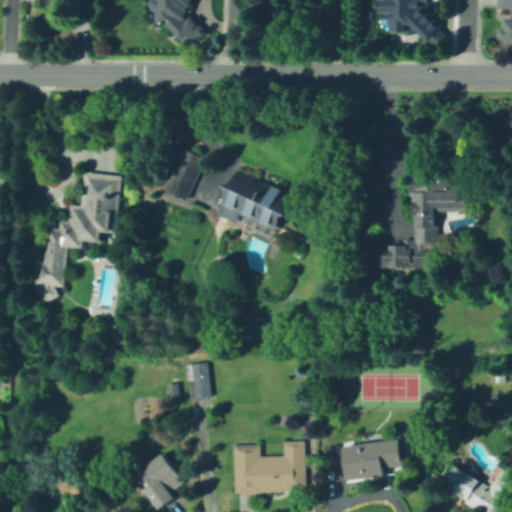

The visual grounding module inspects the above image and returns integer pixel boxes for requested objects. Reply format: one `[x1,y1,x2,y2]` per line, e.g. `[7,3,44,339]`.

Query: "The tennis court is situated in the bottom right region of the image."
[354,366,430,410]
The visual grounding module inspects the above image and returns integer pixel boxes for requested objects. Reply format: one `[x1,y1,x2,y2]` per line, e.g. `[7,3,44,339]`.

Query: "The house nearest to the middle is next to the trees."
[215,172,289,228]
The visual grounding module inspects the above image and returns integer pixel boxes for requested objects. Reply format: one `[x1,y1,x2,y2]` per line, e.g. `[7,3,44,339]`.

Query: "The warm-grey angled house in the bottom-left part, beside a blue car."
[140,454,186,510]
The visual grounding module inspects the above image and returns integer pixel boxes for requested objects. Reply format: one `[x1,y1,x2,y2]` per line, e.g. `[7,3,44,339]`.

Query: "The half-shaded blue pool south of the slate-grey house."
[246,236,270,274]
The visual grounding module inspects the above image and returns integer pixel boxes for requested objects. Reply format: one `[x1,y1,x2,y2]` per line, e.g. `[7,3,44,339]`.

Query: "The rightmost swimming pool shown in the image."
[472,444,499,474]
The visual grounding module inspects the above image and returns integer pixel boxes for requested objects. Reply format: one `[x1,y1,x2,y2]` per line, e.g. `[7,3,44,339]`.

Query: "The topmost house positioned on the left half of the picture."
[146,0,200,41]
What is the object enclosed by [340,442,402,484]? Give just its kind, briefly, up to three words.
house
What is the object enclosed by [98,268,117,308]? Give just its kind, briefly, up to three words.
swimming pool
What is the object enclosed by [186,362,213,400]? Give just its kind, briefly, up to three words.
shed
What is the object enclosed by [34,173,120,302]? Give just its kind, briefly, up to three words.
house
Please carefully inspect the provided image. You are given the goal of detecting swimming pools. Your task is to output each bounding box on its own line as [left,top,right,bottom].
[472,444,499,474]
[98,268,117,308]
[450,218,476,232]
[246,236,270,274]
